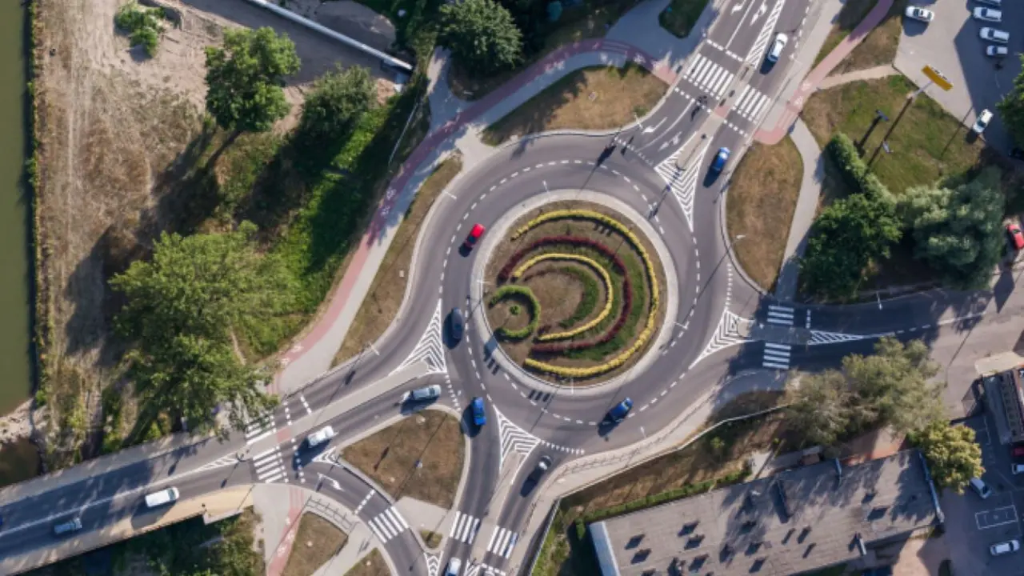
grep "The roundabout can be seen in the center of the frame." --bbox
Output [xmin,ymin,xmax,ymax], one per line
[410,133,740,458]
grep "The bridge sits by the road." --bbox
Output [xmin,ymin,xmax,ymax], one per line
[0,411,254,576]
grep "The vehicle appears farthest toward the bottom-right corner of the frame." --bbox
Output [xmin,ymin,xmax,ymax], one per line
[988,538,1021,556]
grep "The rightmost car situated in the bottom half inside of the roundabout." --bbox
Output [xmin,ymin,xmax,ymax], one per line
[609,396,635,425]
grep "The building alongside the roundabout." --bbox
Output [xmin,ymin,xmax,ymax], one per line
[590,448,947,576]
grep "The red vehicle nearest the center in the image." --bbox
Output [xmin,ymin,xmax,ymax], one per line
[464,222,485,250]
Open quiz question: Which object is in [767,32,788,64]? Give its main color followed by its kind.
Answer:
white car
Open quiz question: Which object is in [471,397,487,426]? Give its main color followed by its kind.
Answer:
blue car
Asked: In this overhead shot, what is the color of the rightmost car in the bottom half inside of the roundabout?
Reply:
blue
